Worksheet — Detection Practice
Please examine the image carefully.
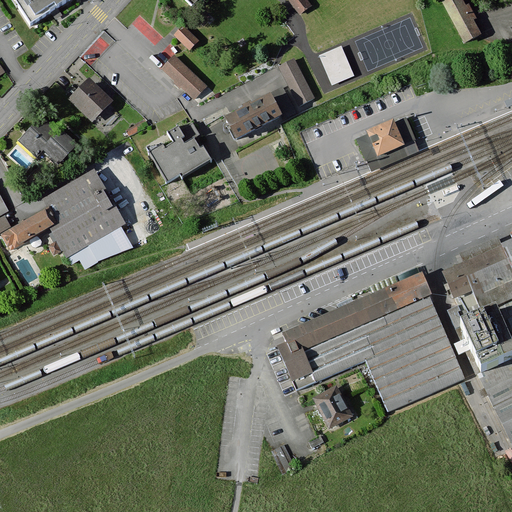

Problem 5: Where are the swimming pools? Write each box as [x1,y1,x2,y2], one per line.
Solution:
[342,426,354,436]
[15,257,38,284]
[8,148,32,170]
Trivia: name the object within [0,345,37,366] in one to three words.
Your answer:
rail car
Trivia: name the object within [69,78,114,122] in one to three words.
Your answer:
house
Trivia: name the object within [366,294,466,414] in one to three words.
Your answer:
building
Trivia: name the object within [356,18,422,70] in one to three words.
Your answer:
sports court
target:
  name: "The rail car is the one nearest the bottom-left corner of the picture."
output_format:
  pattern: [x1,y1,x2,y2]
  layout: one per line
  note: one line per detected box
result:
[4,370,44,390]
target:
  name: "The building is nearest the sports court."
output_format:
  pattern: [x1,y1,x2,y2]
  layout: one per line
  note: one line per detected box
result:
[319,46,354,86]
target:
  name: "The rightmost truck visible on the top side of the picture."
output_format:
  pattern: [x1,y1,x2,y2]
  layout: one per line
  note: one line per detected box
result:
[470,181,506,208]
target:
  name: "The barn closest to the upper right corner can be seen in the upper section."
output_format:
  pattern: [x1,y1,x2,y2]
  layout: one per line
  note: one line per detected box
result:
[444,0,482,44]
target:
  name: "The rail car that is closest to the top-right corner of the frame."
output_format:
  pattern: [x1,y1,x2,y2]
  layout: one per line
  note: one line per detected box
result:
[414,164,454,186]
